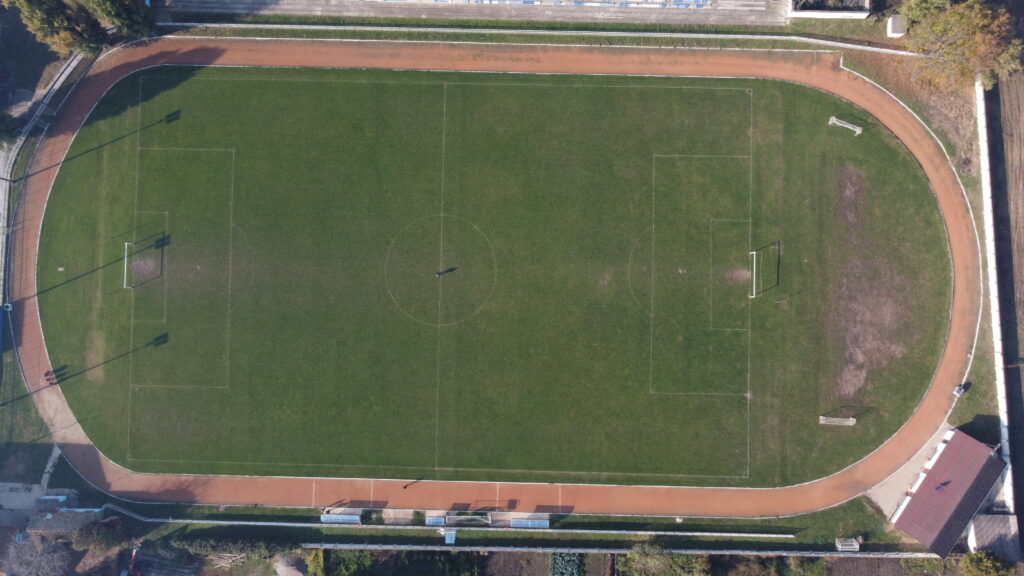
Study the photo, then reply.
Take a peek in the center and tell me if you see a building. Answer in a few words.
No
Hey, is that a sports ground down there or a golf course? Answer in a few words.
sports ground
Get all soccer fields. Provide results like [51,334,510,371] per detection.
[36,65,953,488]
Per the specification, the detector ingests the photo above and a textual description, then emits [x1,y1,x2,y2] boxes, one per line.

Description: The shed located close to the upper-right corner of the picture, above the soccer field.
[886,15,906,38]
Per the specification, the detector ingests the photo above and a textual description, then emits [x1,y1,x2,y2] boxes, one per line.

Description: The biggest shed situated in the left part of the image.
[23,508,108,534]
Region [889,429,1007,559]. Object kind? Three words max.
house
